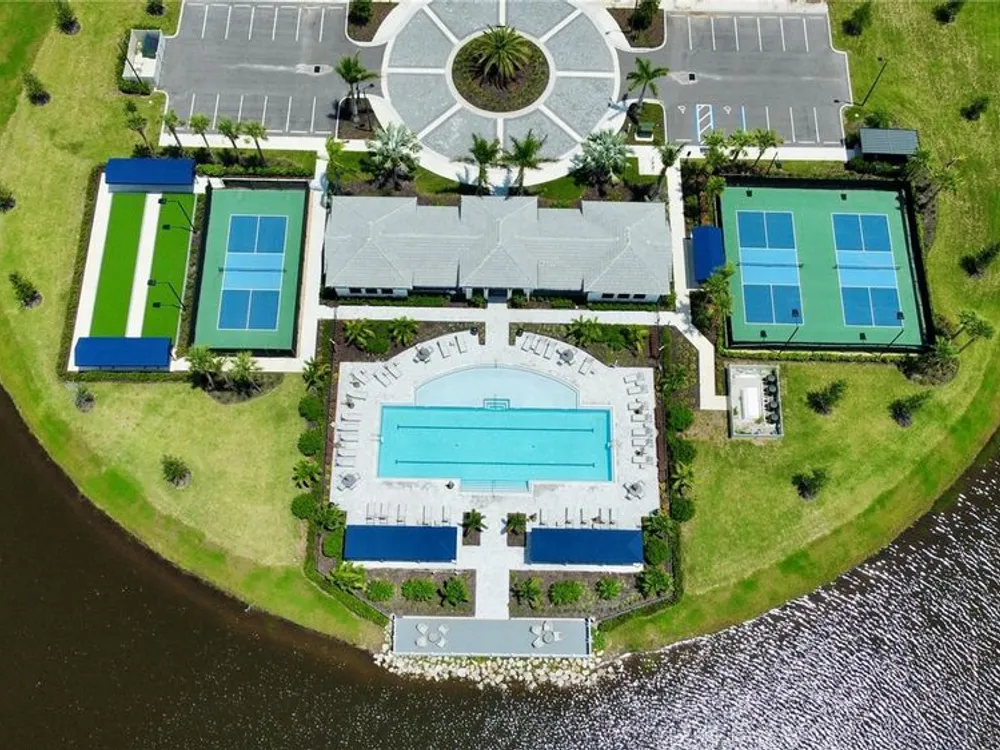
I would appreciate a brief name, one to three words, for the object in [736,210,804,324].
sports court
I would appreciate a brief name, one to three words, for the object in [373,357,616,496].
swimming pool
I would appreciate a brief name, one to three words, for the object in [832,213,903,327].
sports court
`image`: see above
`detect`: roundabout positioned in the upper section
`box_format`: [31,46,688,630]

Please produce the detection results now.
[383,0,619,174]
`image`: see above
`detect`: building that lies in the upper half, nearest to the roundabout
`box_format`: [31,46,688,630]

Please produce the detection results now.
[323,195,671,304]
